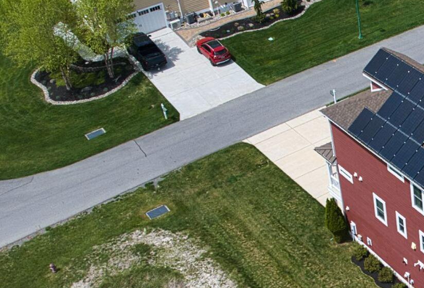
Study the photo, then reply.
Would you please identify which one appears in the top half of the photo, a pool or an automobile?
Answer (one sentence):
It is an automobile that can be seen in the top half of the photo.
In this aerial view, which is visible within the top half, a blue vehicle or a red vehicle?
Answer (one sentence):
There is a red vehicle within the top half.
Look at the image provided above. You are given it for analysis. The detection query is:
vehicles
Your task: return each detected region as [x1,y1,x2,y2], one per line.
[125,31,164,65]
[196,33,229,61]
